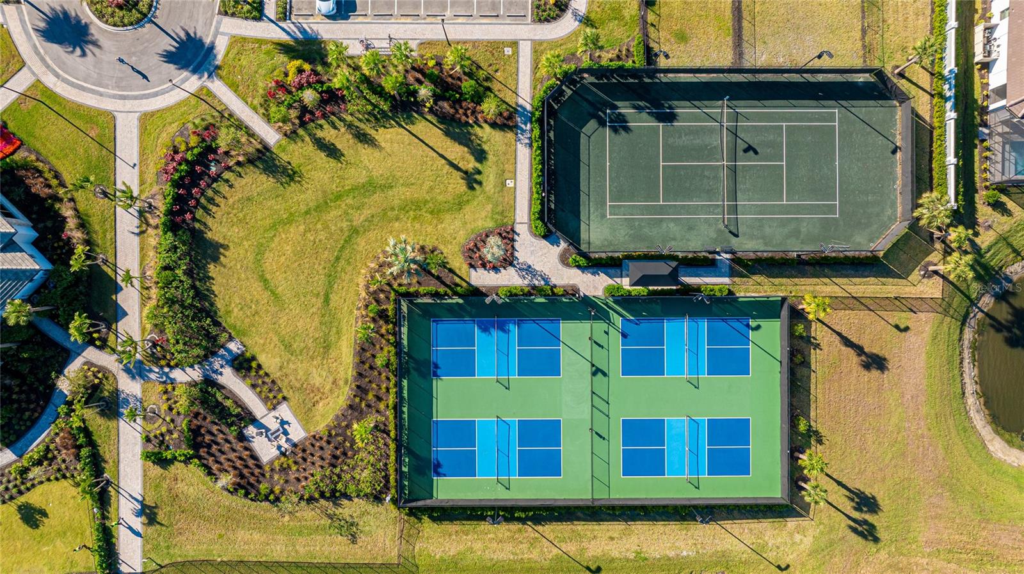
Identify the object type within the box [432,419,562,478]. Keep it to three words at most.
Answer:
sports court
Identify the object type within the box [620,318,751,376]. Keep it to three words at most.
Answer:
sports court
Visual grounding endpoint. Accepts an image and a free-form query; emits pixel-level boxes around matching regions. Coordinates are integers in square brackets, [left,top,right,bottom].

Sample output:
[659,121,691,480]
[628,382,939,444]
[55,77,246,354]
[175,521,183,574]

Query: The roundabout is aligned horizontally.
[1,0,237,112]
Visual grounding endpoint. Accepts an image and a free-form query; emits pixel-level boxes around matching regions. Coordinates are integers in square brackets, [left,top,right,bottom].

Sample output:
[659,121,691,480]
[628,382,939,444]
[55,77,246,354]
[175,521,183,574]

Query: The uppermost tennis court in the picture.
[545,76,896,252]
